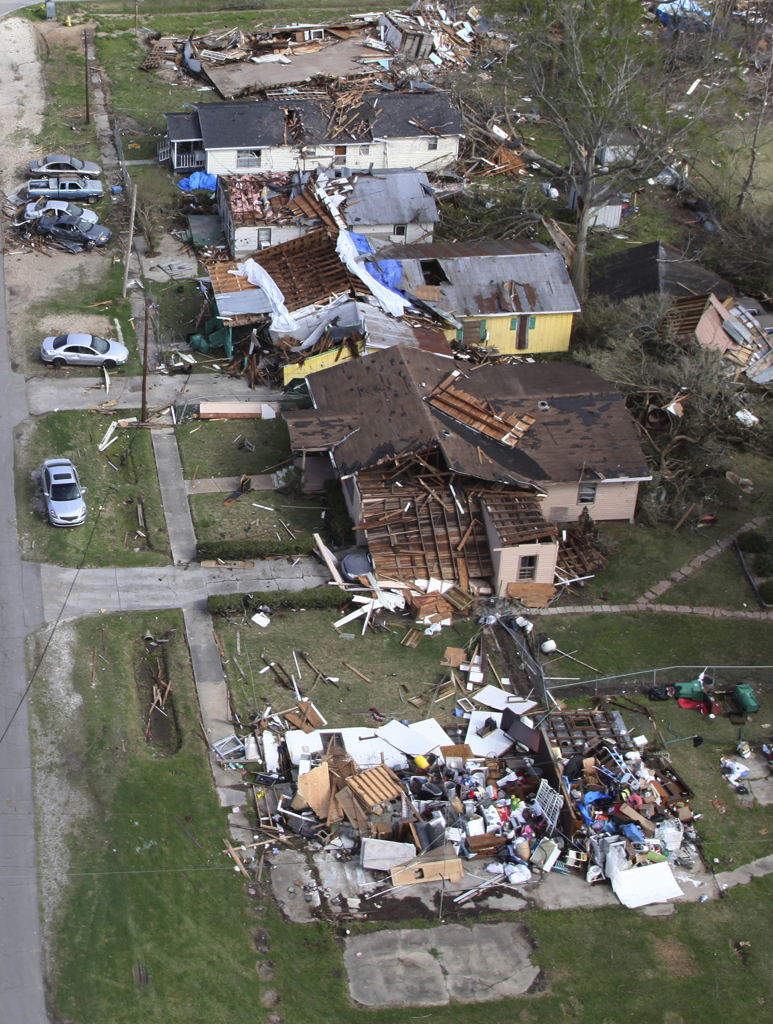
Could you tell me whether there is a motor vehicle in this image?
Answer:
Yes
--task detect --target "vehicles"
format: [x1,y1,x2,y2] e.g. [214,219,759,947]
[36,213,114,247]
[40,333,131,368]
[22,200,101,227]
[41,463,88,526]
[28,172,109,204]
[26,151,103,179]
